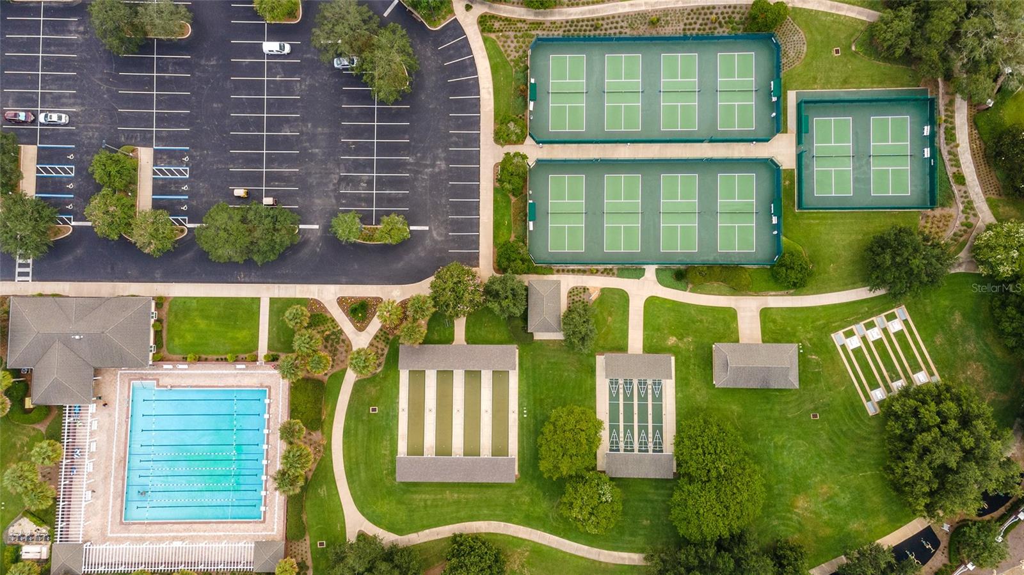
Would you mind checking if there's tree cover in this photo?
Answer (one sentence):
Yes, tree cover shows up in the scene.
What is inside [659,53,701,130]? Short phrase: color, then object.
green sports court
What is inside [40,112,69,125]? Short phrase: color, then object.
white vehicle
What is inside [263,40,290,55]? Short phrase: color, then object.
white vehicle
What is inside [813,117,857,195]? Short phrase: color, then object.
green sports court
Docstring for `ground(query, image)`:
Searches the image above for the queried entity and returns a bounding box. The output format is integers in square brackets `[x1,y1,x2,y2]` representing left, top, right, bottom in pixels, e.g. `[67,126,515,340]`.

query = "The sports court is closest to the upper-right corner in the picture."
[869,115,915,195]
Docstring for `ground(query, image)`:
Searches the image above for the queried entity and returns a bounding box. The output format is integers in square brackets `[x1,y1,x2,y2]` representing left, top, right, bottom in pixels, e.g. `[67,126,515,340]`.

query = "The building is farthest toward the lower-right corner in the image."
[713,343,799,389]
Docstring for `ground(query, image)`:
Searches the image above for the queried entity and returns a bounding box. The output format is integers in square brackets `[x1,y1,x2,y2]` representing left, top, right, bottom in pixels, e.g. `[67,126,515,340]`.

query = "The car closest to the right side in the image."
[333,55,355,69]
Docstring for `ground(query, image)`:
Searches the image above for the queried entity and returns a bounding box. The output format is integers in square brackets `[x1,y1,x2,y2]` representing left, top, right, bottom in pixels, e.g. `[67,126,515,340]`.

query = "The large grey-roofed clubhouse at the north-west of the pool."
[7,297,158,405]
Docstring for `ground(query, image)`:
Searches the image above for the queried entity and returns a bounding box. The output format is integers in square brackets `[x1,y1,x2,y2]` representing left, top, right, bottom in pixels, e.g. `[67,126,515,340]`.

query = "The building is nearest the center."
[528,280,561,332]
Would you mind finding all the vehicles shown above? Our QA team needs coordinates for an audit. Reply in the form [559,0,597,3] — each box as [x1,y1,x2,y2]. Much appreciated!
[263,197,279,206]
[40,112,69,125]
[234,188,251,198]
[5,110,35,124]
[333,55,355,69]
[263,40,290,55]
